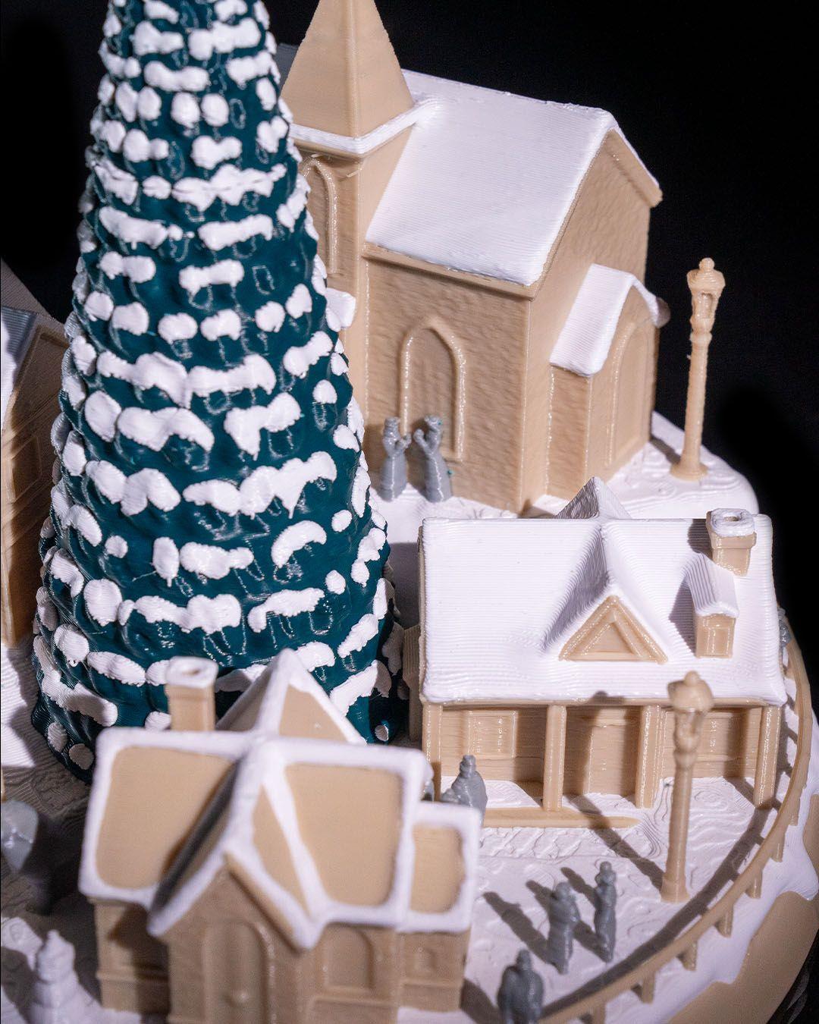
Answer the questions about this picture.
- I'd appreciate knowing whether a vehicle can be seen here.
No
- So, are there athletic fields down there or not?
No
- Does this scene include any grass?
No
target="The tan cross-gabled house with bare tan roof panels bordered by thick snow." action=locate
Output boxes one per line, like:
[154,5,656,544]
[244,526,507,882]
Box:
[76,644,489,1024]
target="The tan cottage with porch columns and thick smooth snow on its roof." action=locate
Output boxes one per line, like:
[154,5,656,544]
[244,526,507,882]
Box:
[400,479,790,833]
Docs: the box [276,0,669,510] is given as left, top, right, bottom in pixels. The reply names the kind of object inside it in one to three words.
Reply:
church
